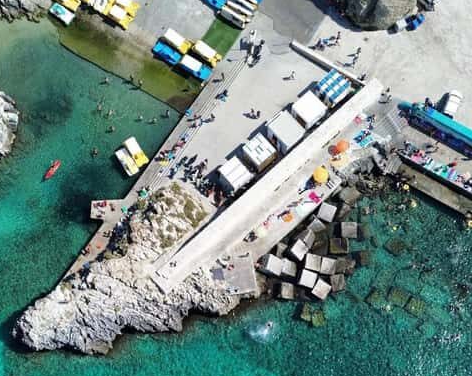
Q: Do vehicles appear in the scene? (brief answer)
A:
Yes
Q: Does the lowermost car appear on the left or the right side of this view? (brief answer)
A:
right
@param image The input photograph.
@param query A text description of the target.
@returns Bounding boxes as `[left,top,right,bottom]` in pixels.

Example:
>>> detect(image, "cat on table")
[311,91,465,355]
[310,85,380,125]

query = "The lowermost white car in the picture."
[445,90,466,118]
